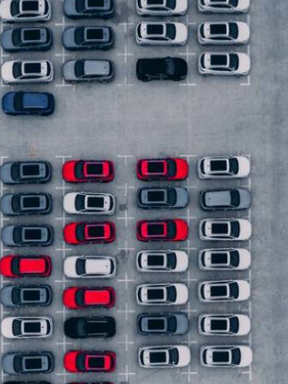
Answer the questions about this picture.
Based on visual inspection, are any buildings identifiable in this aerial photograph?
No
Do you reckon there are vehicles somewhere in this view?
Yes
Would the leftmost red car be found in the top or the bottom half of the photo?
bottom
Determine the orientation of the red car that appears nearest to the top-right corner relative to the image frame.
from left to right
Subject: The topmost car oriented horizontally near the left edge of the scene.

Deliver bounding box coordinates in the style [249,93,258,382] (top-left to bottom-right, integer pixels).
[0,0,52,23]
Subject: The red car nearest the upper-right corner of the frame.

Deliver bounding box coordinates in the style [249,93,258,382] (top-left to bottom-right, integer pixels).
[136,156,189,181]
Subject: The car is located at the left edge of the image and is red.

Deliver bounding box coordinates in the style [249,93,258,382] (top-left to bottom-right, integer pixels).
[0,253,52,280]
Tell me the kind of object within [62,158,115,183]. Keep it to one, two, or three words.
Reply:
car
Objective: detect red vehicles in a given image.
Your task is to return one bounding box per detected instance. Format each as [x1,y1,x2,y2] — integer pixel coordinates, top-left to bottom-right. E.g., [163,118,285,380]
[63,220,116,245]
[0,253,52,280]
[136,217,189,242]
[136,156,189,181]
[63,286,116,311]
[62,158,115,183]
[64,350,117,375]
